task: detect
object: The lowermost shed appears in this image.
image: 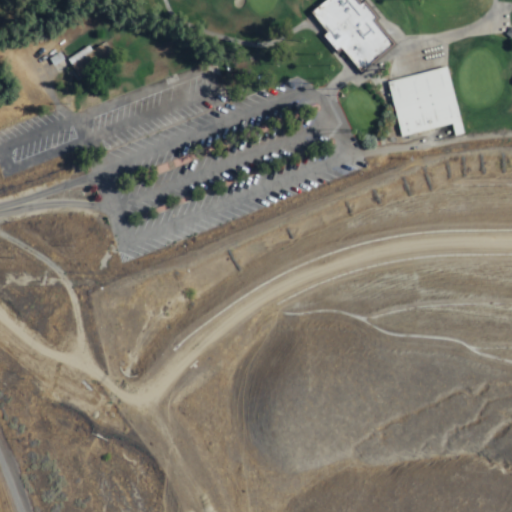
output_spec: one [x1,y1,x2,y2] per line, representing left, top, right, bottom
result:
[389,67,465,136]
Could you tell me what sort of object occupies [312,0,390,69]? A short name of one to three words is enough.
building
